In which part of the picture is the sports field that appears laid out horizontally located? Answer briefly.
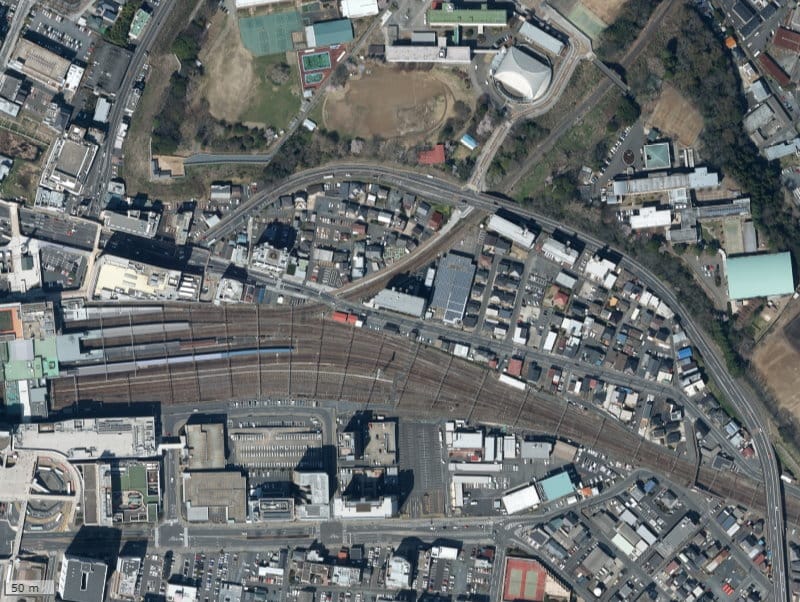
top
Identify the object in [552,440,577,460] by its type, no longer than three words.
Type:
shed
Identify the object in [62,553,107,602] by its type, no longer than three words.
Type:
building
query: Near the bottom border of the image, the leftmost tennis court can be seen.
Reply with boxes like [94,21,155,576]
[503,557,546,602]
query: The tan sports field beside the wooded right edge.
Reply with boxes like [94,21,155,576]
[757,312,800,423]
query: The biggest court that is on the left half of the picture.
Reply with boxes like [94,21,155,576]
[240,12,303,56]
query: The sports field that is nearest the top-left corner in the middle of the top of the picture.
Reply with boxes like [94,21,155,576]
[320,74,459,143]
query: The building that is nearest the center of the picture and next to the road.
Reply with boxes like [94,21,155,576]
[373,287,427,317]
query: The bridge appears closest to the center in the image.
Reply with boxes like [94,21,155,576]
[455,186,505,214]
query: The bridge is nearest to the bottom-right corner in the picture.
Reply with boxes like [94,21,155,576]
[733,396,787,602]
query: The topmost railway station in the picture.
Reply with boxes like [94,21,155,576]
[4,333,59,380]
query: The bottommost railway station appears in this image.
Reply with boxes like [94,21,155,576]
[15,414,155,458]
